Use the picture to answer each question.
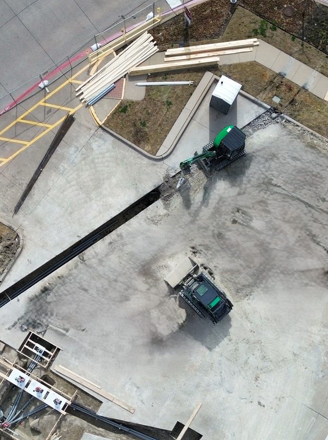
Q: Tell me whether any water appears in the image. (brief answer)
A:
No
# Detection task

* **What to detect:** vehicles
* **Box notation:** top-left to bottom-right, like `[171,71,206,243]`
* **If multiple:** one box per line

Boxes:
[180,129,250,178]
[163,256,235,323]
